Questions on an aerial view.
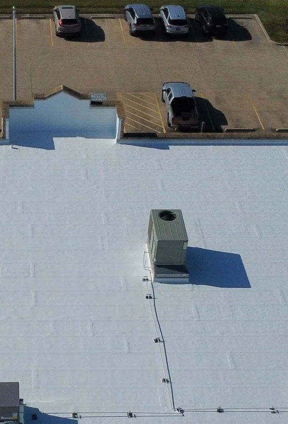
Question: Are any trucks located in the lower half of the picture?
No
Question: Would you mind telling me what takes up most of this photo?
buildings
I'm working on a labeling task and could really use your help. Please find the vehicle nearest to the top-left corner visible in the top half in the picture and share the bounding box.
[52,1,81,32]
